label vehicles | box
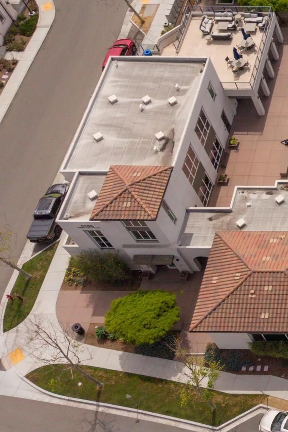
[257,412,288,432]
[95,37,128,73]
[19,185,65,244]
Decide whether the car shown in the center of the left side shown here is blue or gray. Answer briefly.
gray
